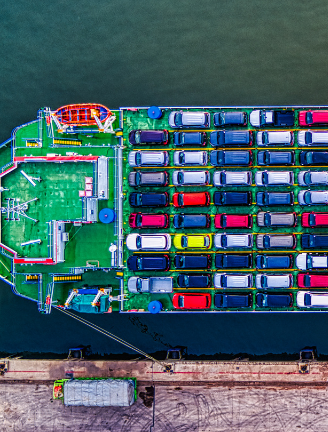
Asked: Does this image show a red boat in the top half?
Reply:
Yes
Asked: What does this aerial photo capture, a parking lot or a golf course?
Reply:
parking lot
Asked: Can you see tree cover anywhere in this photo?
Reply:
No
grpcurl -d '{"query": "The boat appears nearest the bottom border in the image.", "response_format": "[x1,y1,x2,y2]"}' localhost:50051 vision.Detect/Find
[64,293,116,312]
